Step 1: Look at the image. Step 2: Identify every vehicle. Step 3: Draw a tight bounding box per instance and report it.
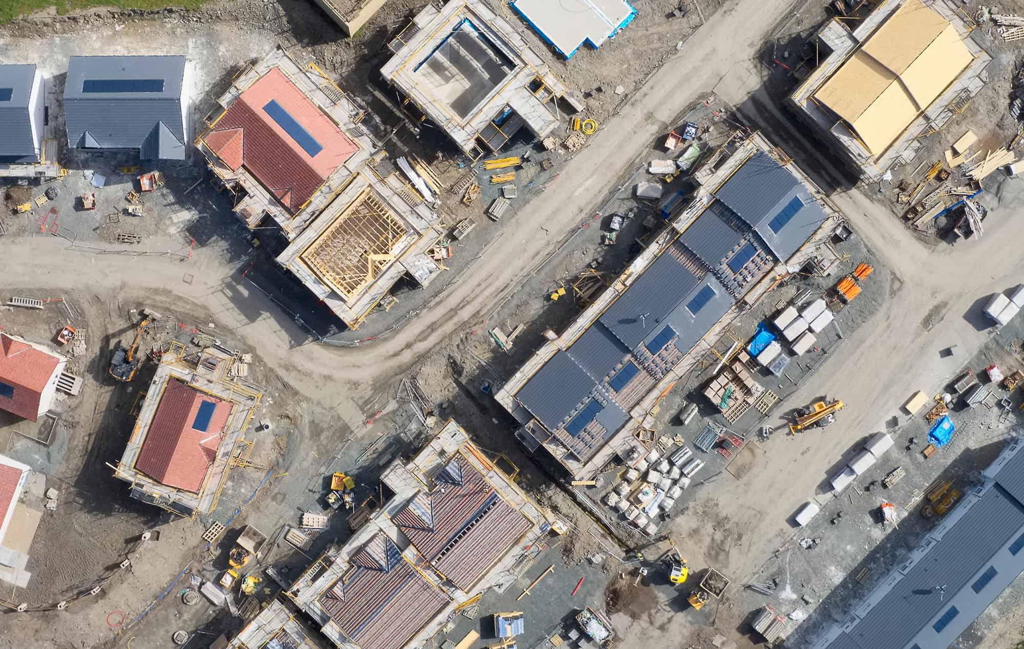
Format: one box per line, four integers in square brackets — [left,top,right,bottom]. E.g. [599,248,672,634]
[222,527,263,574]
[683,571,732,614]
[103,306,161,386]
[774,398,847,438]
[660,532,694,589]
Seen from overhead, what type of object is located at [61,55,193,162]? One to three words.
house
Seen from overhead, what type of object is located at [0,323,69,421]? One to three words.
house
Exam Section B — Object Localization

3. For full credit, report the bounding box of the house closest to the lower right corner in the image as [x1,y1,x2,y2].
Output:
[810,438,1024,649]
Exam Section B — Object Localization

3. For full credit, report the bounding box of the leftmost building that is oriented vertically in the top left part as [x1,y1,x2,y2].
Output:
[0,63,48,170]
